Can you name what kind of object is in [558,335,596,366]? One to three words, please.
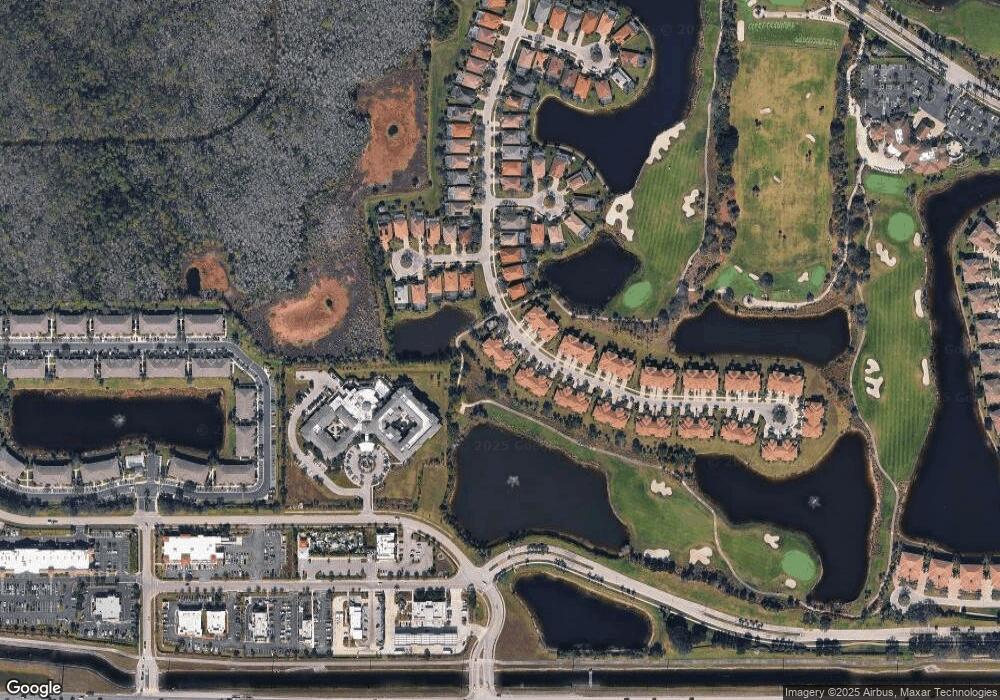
house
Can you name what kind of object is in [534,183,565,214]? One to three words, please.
roundabout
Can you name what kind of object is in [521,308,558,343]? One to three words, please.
house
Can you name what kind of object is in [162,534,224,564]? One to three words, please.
building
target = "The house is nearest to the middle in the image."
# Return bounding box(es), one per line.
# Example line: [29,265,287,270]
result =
[482,337,519,370]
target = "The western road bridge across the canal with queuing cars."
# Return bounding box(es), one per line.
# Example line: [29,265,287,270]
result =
[136,666,159,691]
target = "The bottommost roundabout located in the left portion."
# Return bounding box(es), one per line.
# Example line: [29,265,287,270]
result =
[342,441,391,488]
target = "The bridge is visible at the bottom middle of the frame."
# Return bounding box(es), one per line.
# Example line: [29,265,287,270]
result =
[469,666,494,691]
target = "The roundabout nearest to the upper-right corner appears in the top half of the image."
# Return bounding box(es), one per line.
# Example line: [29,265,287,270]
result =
[581,39,616,73]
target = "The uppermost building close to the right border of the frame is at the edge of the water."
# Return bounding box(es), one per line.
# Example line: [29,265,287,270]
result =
[870,119,962,172]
